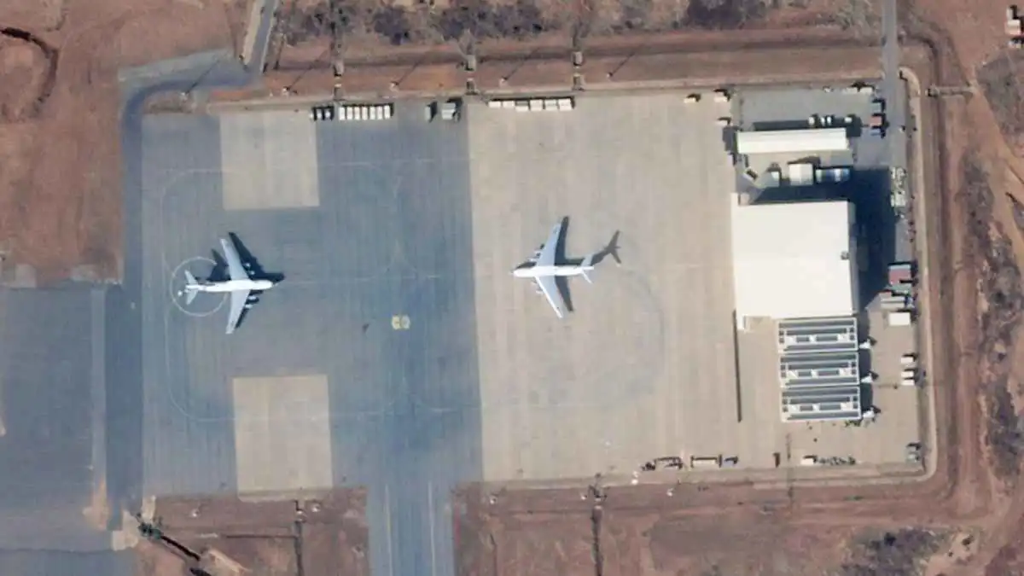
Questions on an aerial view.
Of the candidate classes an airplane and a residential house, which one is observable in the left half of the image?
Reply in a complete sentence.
There is an airplane in the left half of the image.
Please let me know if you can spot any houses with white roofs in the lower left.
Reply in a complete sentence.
No, the scene shows no house with a white roof in the lower left.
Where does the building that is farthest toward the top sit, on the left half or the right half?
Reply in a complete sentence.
The building that is farthest toward the top is on the right side of the image.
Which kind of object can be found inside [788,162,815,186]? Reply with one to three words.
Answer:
house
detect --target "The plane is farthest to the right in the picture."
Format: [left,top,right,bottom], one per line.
[511,225,595,318]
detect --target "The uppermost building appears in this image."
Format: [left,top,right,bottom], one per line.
[737,127,851,154]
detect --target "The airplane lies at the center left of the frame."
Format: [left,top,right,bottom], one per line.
[184,237,278,333]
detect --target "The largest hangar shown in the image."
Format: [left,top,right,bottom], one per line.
[731,193,860,331]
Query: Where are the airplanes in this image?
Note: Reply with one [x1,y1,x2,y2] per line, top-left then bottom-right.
[184,237,278,333]
[511,225,595,318]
